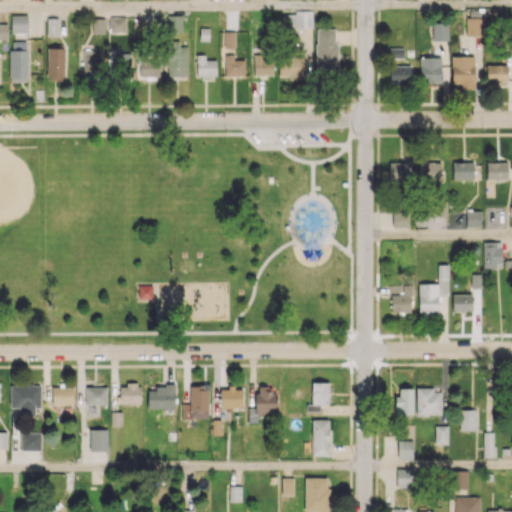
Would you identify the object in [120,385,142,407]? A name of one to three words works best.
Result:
house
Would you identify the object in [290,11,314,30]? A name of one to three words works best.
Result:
building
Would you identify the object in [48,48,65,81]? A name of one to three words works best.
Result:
house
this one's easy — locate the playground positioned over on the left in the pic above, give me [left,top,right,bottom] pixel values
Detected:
[158,282,230,322]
